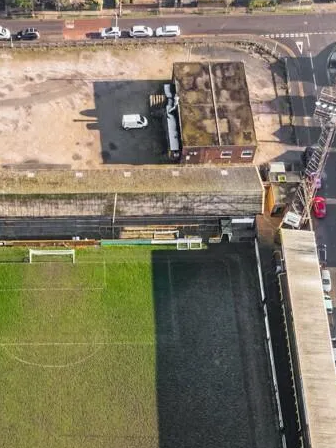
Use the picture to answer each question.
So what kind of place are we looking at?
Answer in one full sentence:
This image shows a sports ground.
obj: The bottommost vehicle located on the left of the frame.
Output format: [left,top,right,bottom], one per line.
[122,115,147,129]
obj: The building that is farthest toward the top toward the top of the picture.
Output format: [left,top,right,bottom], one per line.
[172,62,257,164]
